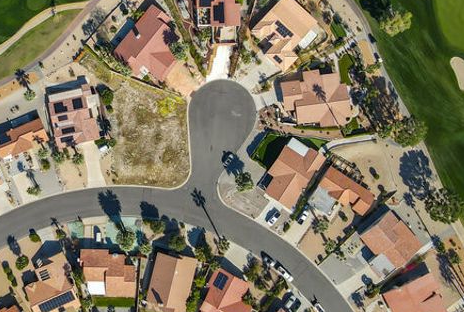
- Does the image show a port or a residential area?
residential area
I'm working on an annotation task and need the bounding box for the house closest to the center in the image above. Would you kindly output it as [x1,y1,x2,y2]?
[255,137,324,213]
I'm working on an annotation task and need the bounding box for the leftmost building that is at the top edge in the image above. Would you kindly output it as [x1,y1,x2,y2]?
[119,9,180,82]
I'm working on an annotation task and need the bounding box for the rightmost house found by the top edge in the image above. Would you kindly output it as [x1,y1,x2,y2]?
[253,0,318,69]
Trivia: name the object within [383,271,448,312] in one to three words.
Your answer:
house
